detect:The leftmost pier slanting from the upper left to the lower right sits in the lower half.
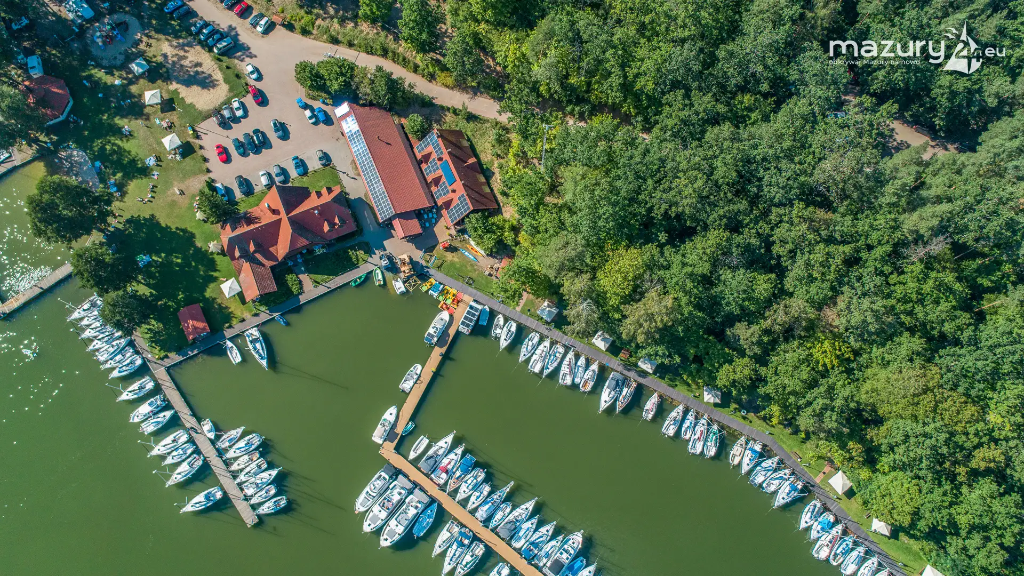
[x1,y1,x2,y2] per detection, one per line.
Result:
[154,369,259,527]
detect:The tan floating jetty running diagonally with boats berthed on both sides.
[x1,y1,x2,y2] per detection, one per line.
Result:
[380,450,544,576]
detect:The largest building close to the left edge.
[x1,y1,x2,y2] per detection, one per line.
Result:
[25,80,79,126]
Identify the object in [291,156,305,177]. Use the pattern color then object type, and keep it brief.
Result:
blue car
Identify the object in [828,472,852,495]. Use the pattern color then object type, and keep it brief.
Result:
white gazebo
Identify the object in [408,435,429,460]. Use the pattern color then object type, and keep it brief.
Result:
white boat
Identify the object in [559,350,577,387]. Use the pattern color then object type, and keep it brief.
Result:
white boat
